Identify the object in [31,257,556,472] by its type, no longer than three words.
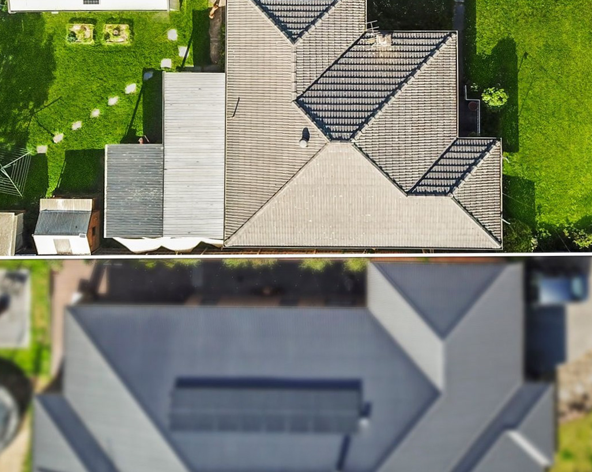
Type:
house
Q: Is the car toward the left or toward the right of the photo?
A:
right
